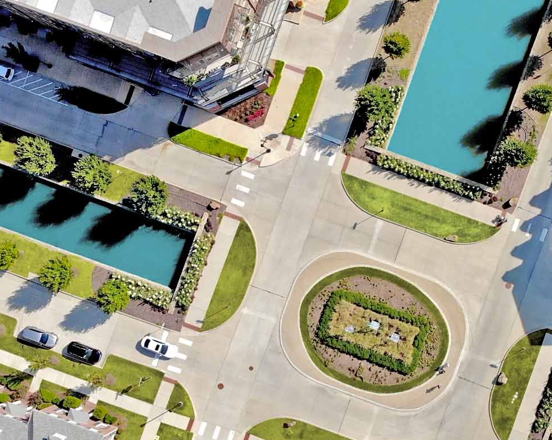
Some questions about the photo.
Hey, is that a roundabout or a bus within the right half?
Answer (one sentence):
You can see a roundabout within the right half.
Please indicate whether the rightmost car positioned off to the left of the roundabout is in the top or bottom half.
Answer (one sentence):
Seen from above, the rightmost car positioned off to the left of the roundabout lies in the bottom half of the view.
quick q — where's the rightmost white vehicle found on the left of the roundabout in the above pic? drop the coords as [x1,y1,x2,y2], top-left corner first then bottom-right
[139,335,180,359]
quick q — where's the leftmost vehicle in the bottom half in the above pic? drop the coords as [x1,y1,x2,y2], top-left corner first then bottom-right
[15,326,59,349]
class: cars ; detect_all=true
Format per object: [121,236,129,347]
[15,326,59,349]
[139,335,180,359]
[0,62,17,81]
[59,341,104,365]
